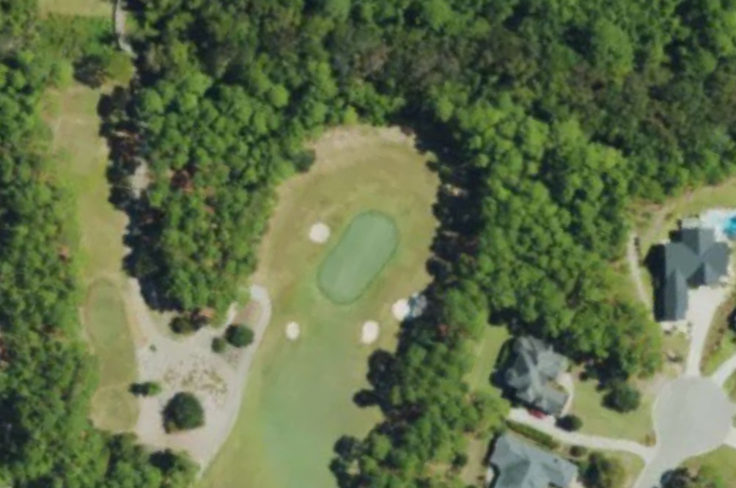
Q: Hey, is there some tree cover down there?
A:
Yes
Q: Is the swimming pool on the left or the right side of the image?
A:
right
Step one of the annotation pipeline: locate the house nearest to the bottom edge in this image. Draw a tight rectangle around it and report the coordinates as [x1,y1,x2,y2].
[491,432,580,488]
